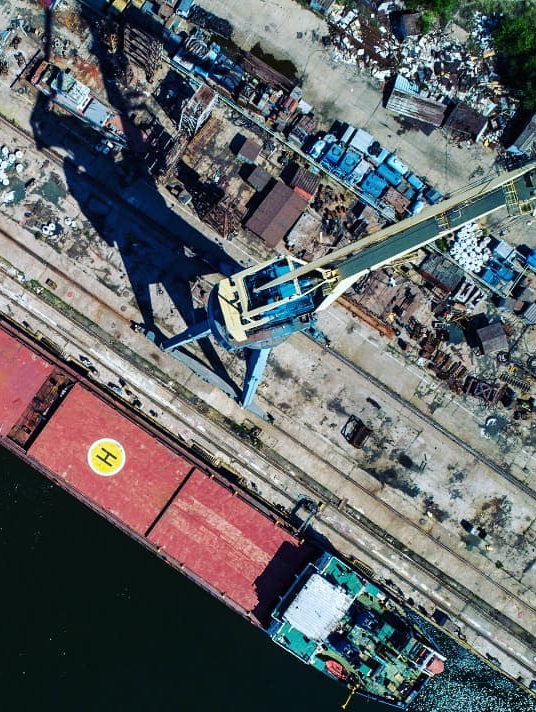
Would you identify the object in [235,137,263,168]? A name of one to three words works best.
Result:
shed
